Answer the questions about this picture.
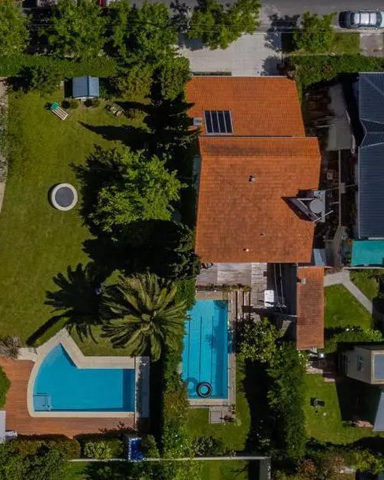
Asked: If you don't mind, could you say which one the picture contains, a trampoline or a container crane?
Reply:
trampoline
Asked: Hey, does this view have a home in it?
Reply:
Yes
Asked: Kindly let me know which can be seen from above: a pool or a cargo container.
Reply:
pool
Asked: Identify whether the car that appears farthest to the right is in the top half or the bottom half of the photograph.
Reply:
top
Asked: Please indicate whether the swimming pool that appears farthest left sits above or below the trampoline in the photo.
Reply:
below it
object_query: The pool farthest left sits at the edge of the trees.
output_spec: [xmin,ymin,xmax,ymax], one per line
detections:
[28,327,134,417]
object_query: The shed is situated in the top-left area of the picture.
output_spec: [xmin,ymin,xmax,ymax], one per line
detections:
[71,76,99,99]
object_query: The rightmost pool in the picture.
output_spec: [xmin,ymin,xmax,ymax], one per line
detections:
[182,290,234,406]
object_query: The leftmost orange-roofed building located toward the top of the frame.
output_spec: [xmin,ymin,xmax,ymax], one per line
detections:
[185,75,332,262]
